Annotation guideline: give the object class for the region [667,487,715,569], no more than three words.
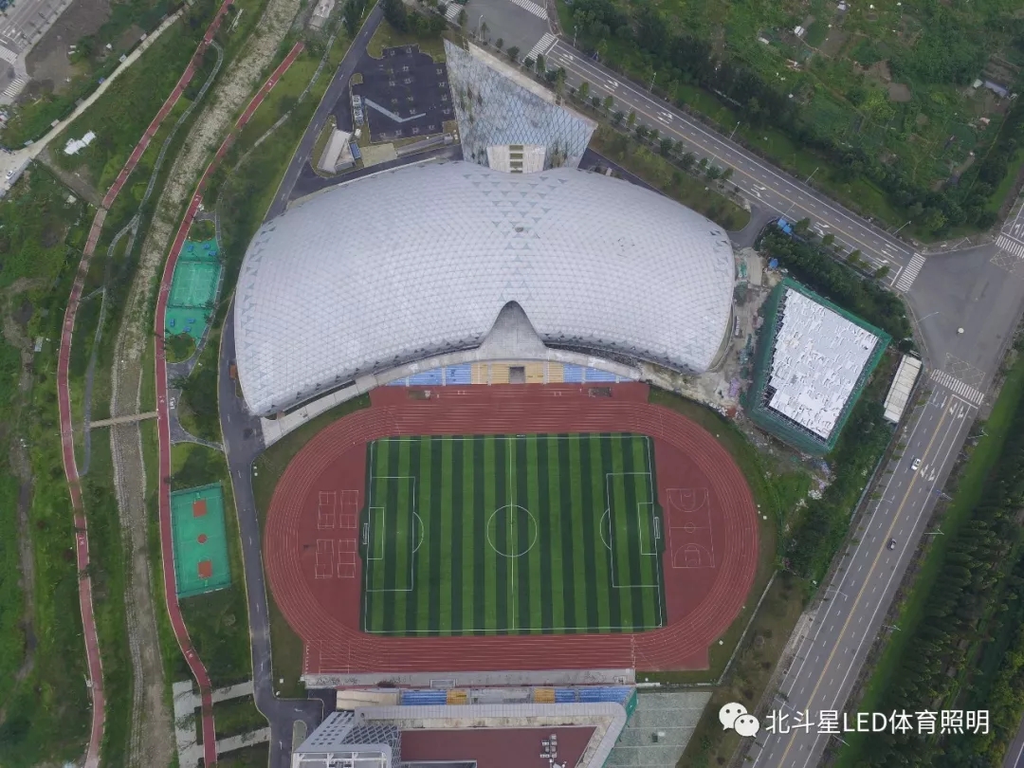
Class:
basketball court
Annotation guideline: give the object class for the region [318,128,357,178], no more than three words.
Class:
building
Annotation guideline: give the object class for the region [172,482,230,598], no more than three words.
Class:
basketball court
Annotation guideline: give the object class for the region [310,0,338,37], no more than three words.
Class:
building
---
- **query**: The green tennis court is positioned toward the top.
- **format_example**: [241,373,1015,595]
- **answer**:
[166,237,223,343]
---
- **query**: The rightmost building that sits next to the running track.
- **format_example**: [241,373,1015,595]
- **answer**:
[743,277,891,454]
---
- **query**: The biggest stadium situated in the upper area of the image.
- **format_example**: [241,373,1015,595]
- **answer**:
[234,159,737,417]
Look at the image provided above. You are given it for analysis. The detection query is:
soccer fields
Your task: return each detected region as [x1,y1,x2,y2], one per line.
[356,433,668,637]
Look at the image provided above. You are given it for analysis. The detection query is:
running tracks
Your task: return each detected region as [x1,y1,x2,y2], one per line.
[264,383,759,674]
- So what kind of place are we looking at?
sports ground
